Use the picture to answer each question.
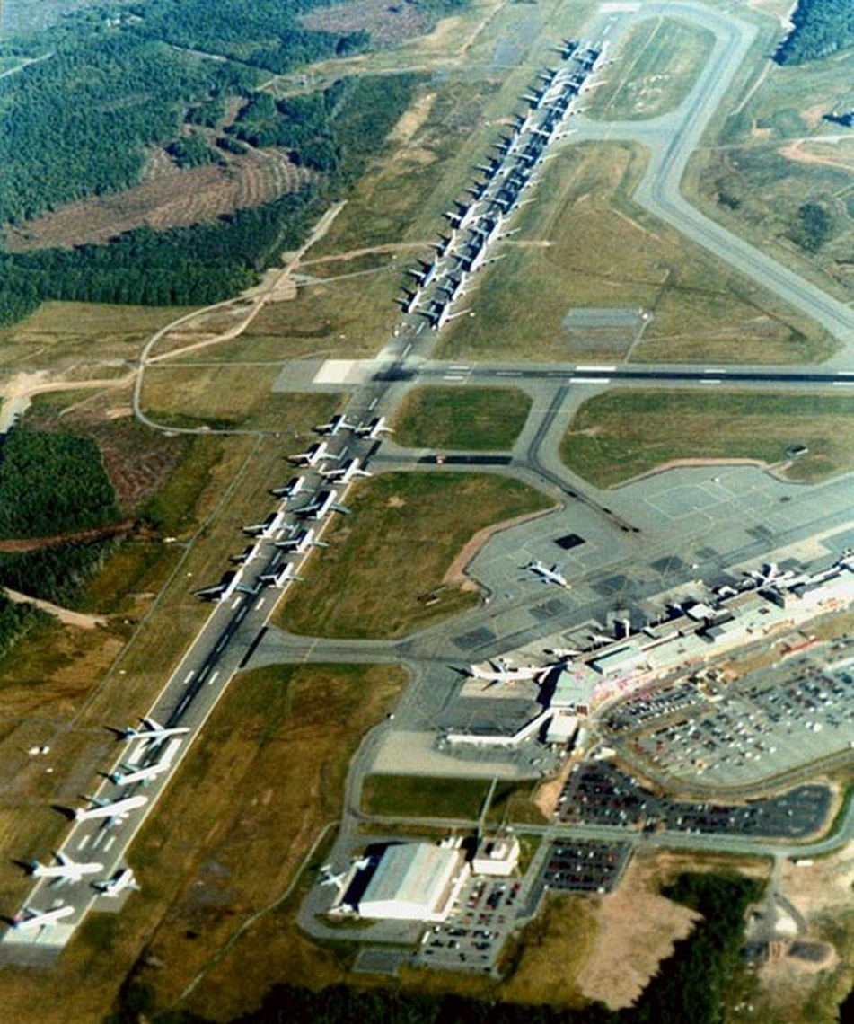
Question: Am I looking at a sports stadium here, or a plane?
plane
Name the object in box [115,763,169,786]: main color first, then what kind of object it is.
white airplane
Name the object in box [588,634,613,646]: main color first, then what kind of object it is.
white airplane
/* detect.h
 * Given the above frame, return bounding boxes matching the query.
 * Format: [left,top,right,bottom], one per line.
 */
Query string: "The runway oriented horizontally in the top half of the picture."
[414,361,854,388]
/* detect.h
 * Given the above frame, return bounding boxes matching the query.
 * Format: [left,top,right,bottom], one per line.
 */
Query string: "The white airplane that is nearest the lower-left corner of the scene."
[11,905,74,931]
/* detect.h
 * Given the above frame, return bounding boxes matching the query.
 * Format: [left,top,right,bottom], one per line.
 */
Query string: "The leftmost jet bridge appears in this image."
[536,661,560,674]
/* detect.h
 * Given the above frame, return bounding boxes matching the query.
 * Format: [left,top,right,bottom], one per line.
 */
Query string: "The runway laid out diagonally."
[2,3,647,945]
